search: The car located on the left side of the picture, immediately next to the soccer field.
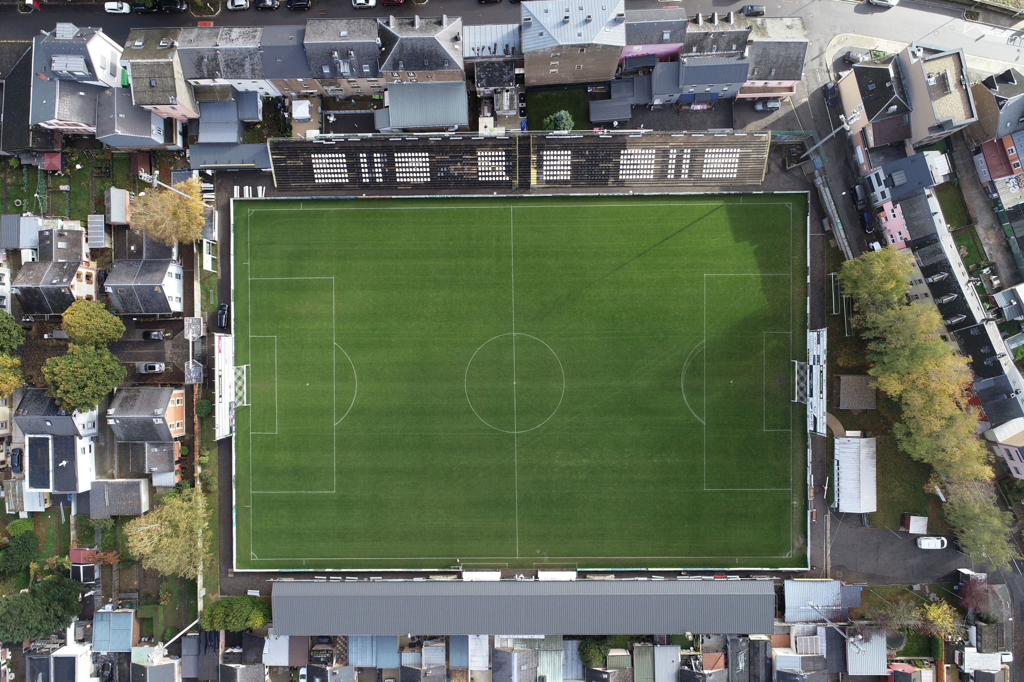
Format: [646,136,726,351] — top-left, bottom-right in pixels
[217,303,230,329]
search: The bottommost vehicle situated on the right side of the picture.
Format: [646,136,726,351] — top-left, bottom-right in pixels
[998,650,1016,663]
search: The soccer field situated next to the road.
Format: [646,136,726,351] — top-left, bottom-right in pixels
[233,192,808,570]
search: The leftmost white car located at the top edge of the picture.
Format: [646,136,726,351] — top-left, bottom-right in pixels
[106,1,130,14]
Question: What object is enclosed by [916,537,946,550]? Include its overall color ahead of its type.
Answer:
white vehicle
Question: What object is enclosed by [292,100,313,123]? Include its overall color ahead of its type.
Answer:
white tent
